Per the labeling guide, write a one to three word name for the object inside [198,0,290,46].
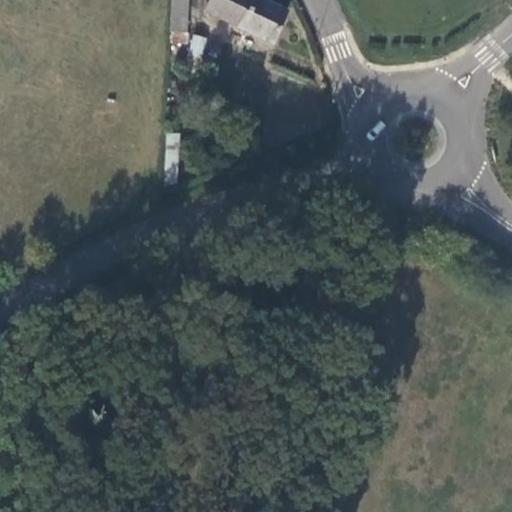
house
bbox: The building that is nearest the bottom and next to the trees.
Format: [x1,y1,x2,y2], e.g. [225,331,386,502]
[164,132,181,184]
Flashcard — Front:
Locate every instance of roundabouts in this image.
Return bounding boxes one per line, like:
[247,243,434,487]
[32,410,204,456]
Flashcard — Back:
[340,64,486,207]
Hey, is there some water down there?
No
